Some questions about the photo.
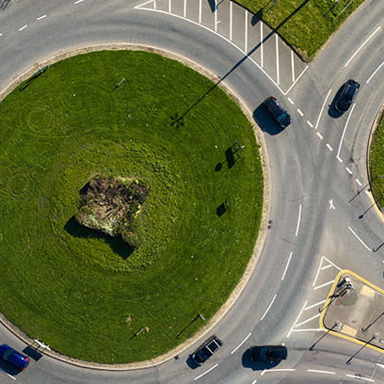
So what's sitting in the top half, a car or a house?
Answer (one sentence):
You can see a car in the top half.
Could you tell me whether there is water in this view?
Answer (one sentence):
No, the scene doesn't show any water.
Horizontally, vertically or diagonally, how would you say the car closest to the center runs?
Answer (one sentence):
Seen from above, the car closest to the center lies diagonally.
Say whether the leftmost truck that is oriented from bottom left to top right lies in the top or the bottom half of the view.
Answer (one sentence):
It is in the bottom half that the leftmost truck that is oriented from bottom left to top right appears.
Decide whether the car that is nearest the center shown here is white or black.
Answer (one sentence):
The car that is nearest the center looks black in the image.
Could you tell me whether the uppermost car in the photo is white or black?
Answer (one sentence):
The uppermost car looks black in the image.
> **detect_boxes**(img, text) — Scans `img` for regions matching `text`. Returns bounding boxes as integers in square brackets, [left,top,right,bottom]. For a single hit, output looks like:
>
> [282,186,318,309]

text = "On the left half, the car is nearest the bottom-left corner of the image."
[0,345,31,370]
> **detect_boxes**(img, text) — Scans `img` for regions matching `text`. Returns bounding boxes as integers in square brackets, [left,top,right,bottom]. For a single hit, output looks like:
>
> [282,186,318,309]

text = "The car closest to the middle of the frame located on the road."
[260,98,290,130]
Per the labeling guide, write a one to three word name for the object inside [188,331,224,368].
truck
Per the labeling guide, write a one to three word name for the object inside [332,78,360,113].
car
